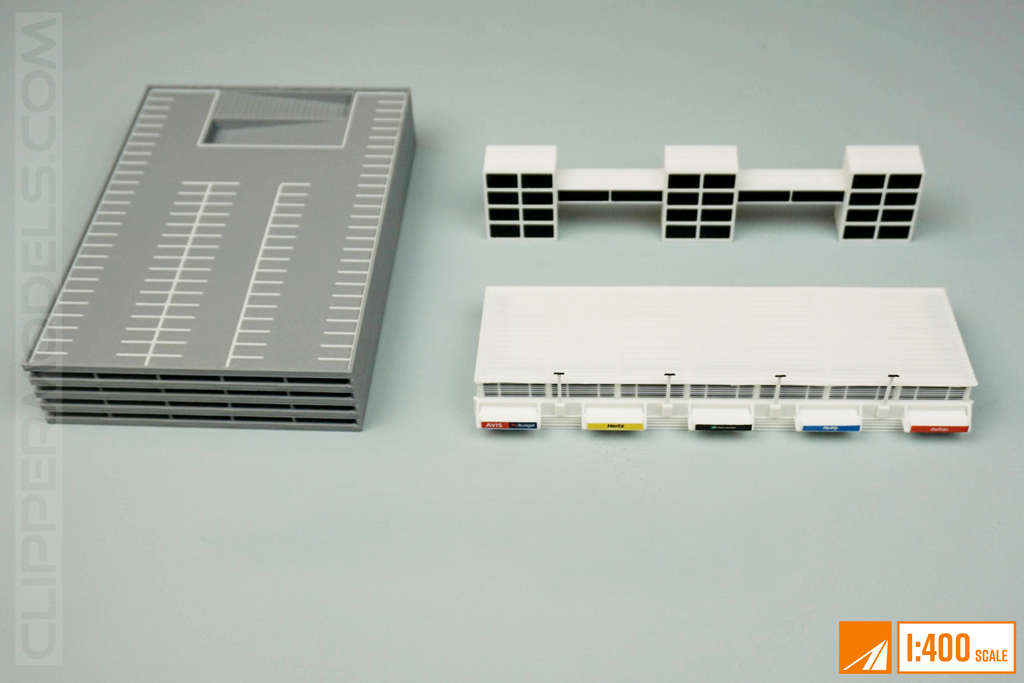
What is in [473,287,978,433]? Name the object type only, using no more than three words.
building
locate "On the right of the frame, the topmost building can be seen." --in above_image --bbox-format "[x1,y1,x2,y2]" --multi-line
[483,145,925,241]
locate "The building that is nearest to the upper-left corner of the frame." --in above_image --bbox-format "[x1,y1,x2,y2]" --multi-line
[23,85,416,430]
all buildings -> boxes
[23,85,416,430]
[473,287,978,433]
[483,145,925,241]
